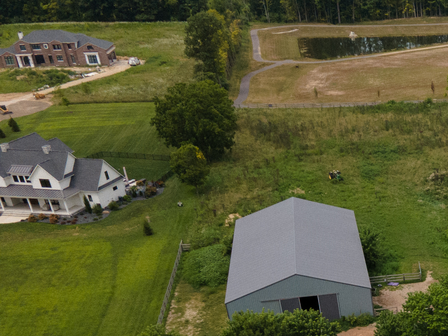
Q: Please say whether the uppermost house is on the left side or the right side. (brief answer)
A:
left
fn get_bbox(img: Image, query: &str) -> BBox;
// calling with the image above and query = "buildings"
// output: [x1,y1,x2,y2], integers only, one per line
[225,197,374,332]
[0,25,127,68]
[0,129,126,218]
